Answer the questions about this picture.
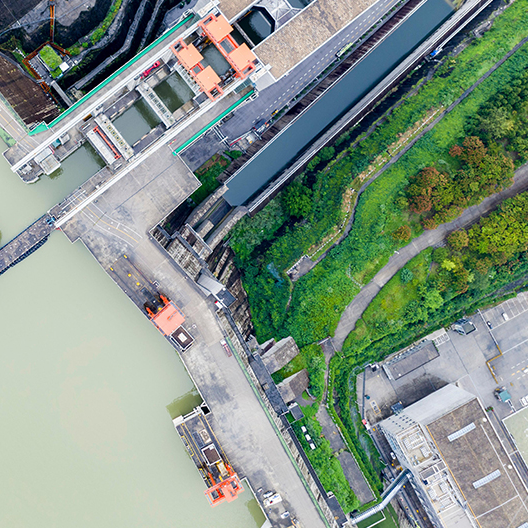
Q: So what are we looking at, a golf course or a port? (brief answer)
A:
port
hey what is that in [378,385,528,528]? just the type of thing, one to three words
building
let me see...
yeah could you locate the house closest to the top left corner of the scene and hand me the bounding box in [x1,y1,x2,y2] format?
[38,44,70,79]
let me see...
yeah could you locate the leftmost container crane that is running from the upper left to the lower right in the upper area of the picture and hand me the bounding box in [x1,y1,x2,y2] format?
[165,37,223,105]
